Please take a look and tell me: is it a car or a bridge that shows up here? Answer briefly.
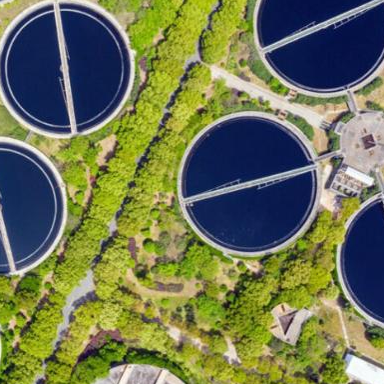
bridge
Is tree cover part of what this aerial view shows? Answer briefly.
Yes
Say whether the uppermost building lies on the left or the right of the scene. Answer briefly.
right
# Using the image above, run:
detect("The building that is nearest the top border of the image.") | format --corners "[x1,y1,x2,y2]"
[267,302,313,346]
